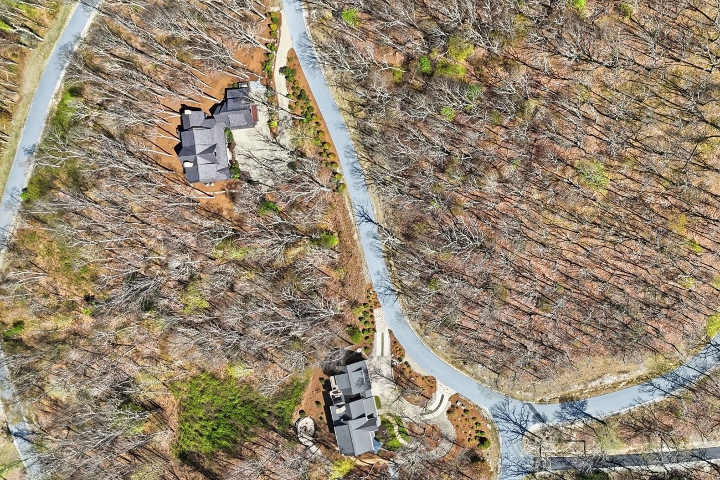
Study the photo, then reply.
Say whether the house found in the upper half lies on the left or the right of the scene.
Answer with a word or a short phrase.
left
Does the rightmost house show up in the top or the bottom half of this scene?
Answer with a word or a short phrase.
bottom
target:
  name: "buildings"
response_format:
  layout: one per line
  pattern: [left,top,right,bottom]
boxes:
[329,358,383,456]
[178,89,260,183]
